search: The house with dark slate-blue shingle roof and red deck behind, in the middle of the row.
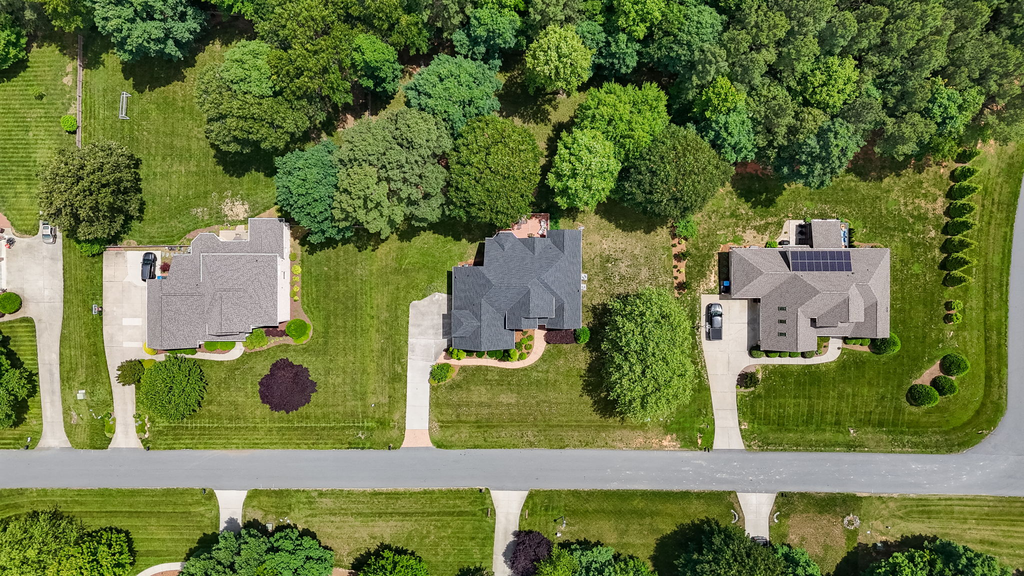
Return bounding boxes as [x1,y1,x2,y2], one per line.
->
[450,228,582,352]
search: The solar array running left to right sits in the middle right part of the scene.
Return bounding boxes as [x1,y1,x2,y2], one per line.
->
[791,249,853,270]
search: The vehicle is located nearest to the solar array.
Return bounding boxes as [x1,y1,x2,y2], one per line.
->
[710,303,725,341]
